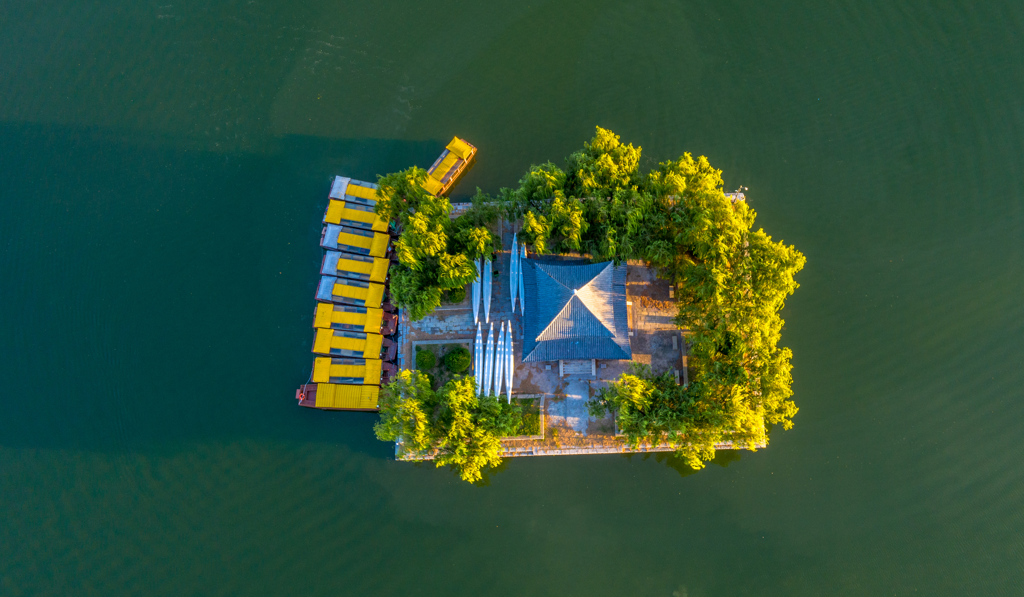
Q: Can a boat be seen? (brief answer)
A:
Yes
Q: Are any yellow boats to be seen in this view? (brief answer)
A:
Yes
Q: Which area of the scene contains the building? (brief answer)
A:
center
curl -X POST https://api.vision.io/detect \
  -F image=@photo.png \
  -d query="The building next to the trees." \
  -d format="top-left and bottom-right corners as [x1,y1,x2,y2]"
[522,256,637,376]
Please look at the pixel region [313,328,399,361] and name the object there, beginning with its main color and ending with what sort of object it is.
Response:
yellow boat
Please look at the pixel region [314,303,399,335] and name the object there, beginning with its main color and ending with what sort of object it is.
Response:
yellow boat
